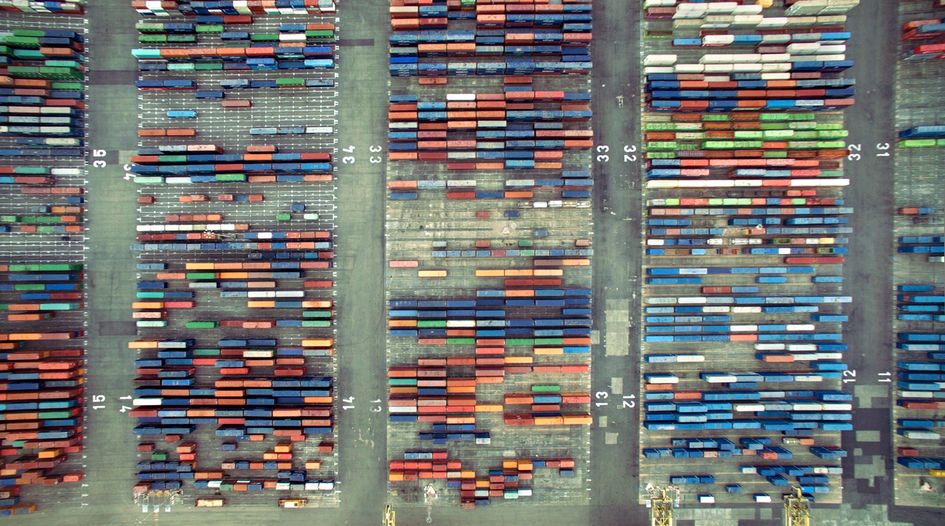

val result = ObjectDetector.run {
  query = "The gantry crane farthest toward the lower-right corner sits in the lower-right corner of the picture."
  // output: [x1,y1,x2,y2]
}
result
[784,484,809,526]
